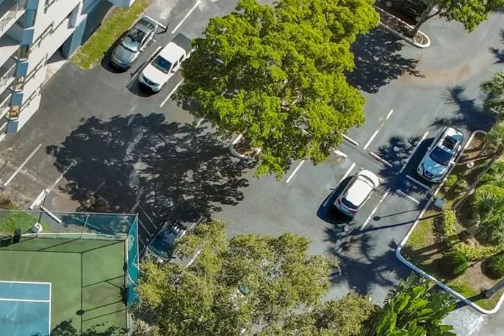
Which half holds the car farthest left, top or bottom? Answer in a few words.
top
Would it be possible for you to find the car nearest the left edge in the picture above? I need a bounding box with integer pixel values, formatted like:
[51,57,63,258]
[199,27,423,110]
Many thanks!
[110,18,160,70]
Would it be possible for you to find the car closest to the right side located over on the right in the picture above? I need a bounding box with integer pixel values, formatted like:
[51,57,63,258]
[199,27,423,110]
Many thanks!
[411,128,466,186]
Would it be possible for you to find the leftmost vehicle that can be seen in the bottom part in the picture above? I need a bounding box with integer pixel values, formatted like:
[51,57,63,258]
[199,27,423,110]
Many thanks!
[139,212,200,274]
